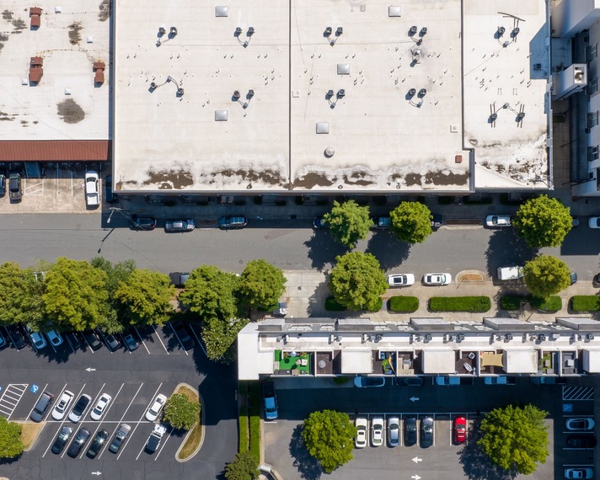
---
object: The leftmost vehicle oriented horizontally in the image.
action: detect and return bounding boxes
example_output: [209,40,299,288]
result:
[129,216,159,231]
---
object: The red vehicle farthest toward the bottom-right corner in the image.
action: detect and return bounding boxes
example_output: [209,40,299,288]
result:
[454,416,467,444]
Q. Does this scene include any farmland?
No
